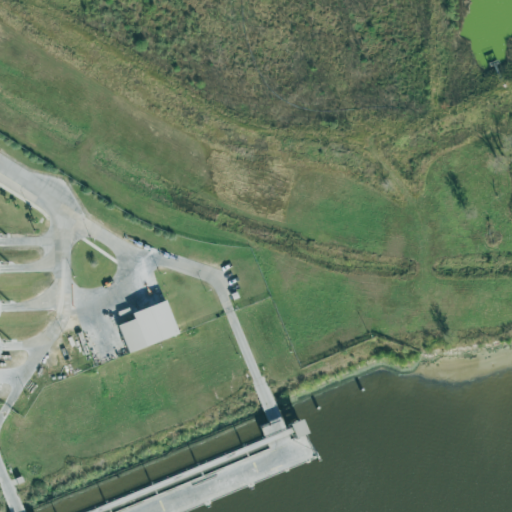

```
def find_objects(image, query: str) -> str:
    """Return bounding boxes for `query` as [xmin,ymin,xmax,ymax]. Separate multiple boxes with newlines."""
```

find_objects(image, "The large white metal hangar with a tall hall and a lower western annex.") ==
[119,300,180,353]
